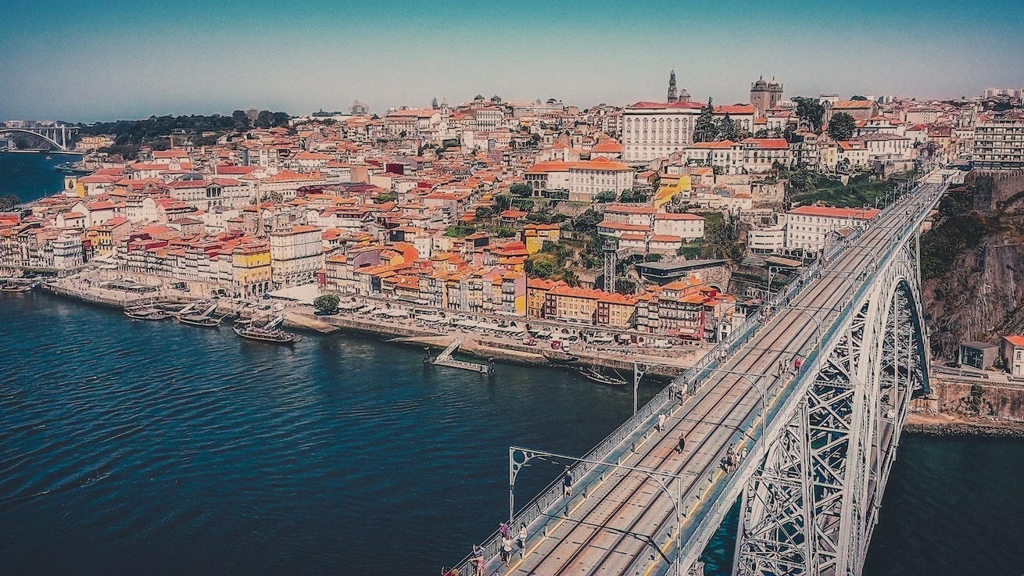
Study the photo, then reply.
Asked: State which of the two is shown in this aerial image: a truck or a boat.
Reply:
boat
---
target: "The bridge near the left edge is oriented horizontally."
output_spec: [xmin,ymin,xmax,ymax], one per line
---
[0,123,82,151]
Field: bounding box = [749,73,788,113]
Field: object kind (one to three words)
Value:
building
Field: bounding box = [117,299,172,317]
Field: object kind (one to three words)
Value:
boat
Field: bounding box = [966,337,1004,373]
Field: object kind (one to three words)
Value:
building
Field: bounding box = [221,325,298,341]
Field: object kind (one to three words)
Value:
boat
